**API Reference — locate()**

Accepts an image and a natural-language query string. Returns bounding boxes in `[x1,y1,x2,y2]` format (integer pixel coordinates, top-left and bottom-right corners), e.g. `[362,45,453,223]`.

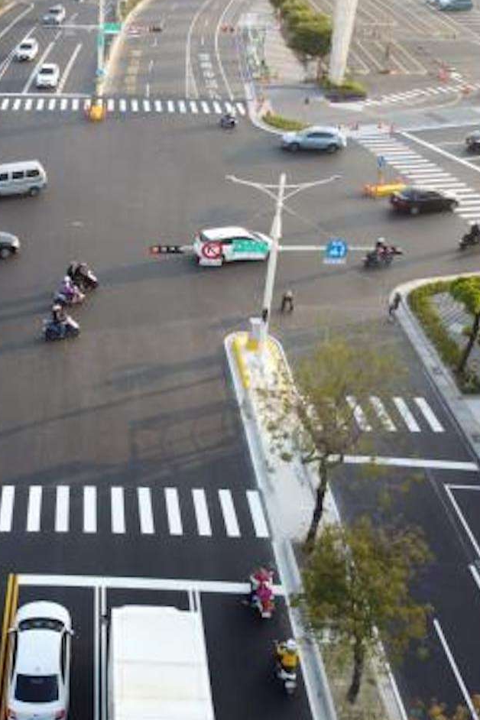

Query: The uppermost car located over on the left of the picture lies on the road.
[44,6,64,23]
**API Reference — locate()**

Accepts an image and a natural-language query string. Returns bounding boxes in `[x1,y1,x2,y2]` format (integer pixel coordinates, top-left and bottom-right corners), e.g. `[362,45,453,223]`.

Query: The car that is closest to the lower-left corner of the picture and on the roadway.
[5,599,78,720]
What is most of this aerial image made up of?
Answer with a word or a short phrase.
paved ground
